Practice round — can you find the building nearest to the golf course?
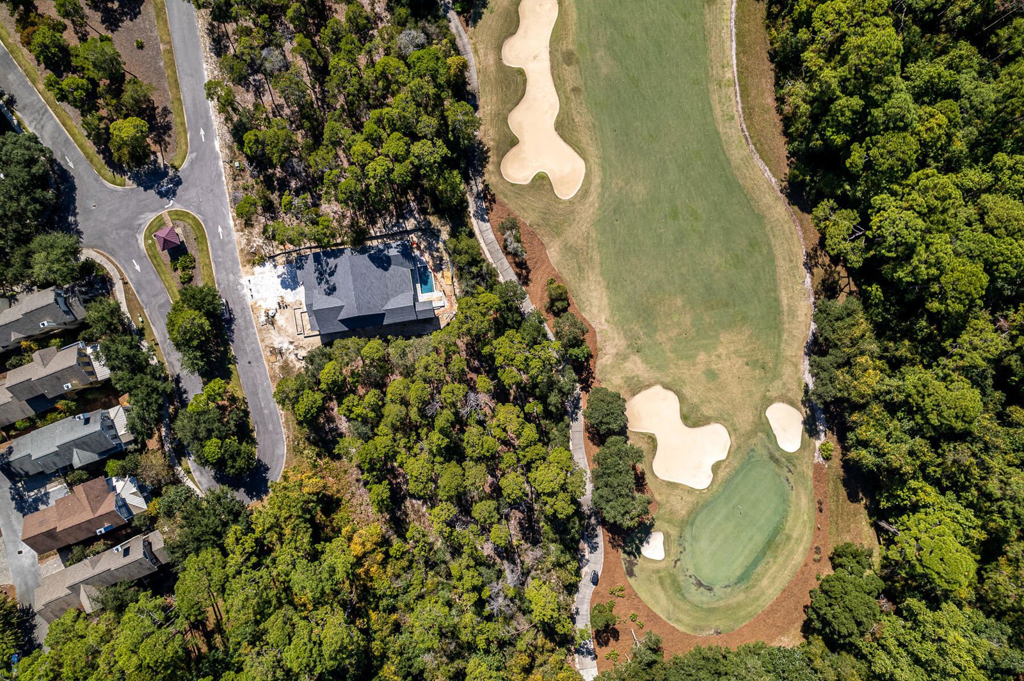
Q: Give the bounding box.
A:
[295,239,438,334]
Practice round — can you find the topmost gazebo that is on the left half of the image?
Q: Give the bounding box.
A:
[148,222,188,253]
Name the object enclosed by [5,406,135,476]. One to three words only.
house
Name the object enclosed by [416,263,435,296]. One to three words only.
swimming pool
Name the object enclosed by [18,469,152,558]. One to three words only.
house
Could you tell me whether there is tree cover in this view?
Yes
